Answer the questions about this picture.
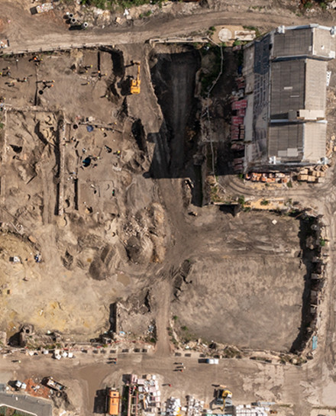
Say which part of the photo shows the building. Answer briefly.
top right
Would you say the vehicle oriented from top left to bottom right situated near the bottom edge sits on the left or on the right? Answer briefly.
left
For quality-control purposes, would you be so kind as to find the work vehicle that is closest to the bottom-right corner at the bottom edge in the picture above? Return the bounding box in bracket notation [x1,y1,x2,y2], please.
[213,387,231,414]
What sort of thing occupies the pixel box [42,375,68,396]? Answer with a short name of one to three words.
vehicle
